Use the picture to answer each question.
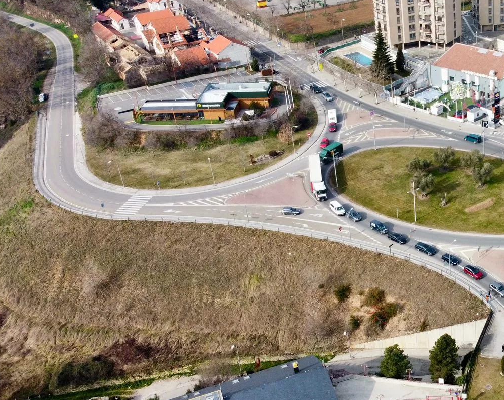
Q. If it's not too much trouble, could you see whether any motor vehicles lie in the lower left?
No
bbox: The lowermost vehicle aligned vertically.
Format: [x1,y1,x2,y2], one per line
[306,157,323,191]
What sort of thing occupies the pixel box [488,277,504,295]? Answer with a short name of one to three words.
car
